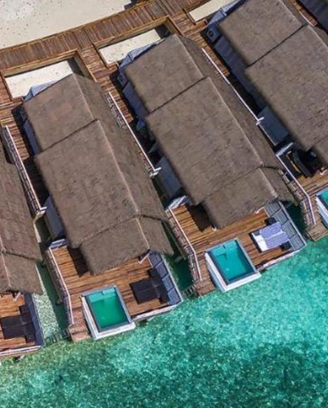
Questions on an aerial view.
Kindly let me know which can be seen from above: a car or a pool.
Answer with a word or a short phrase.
pool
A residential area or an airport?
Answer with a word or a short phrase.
residential area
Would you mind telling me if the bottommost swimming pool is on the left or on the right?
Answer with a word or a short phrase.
left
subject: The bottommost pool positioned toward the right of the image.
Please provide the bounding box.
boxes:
[201,238,261,296]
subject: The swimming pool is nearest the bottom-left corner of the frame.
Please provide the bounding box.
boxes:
[78,287,136,343]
